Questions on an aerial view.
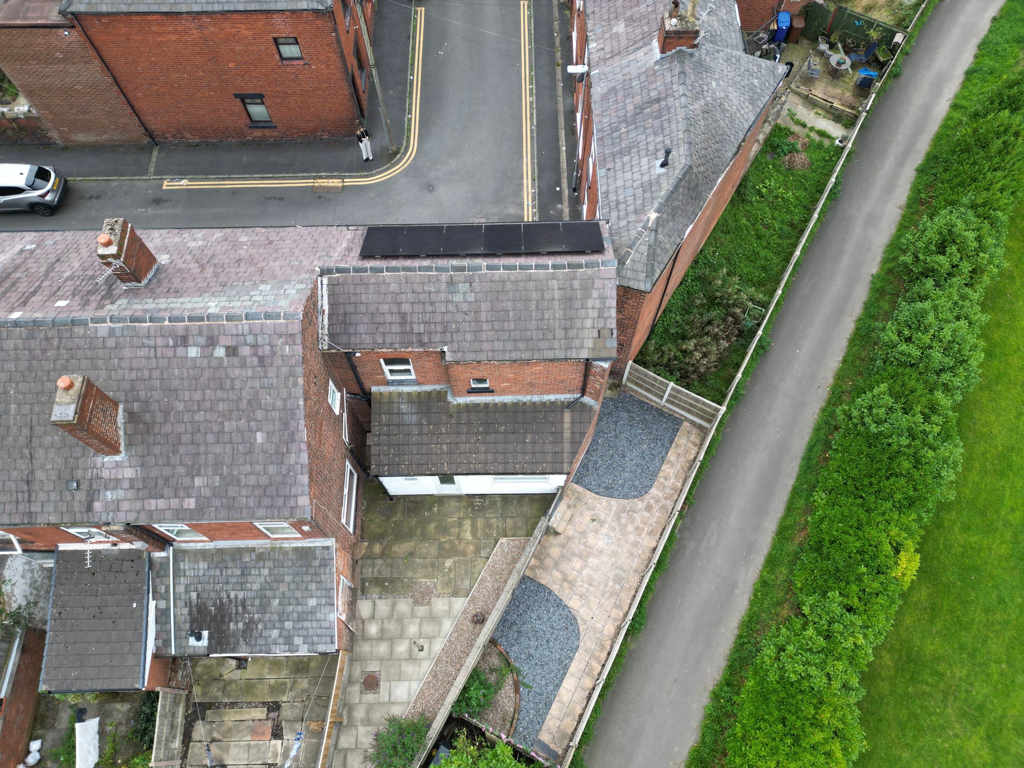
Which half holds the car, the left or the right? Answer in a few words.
left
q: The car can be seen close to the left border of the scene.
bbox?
[0,158,69,218]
